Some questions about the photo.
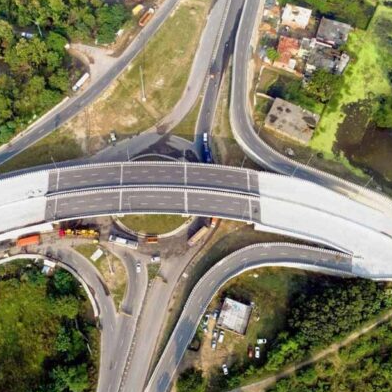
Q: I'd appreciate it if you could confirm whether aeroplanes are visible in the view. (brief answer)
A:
No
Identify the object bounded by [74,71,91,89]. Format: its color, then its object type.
white vehicle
